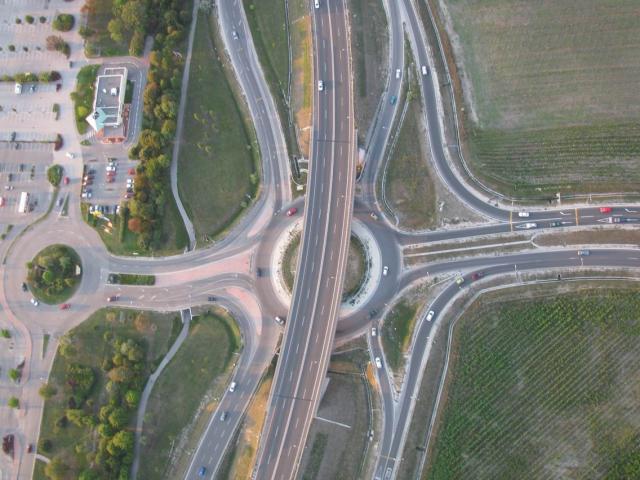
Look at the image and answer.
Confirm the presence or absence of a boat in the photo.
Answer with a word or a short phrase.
No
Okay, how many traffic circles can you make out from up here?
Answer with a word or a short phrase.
two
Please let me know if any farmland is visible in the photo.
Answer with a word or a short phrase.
Yes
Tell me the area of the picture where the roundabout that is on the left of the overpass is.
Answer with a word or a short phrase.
left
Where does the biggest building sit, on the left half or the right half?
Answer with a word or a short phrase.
left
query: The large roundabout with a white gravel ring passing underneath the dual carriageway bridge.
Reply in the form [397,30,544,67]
[253,194,401,339]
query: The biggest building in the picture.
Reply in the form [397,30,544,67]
[86,66,129,126]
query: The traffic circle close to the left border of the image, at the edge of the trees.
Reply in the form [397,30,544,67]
[3,225,104,326]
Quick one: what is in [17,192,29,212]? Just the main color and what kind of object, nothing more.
white vehicle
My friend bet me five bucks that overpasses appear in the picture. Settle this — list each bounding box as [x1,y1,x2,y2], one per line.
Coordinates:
[250,0,356,480]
